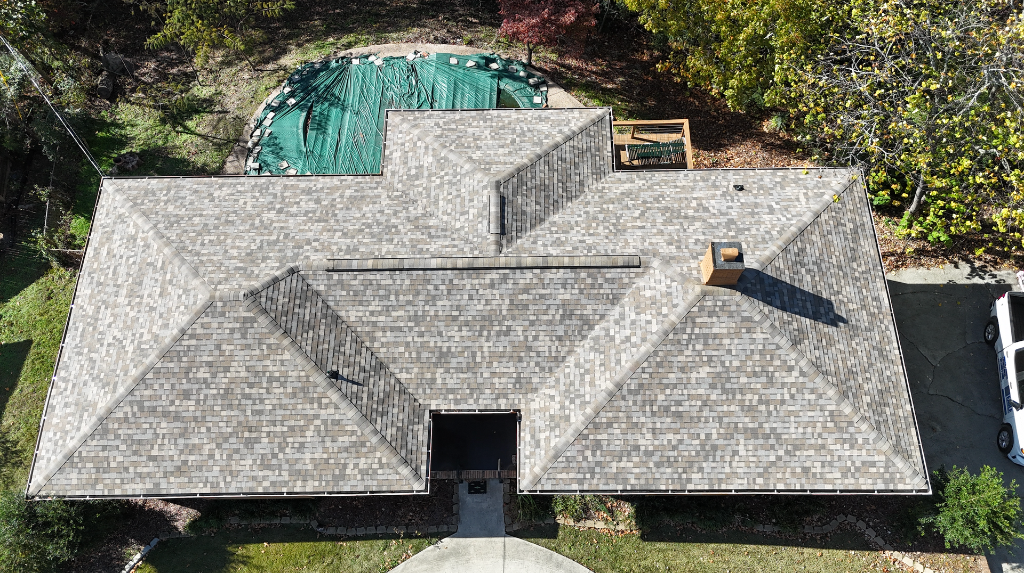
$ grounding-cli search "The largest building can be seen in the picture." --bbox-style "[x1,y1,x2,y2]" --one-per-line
[26,106,932,500]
